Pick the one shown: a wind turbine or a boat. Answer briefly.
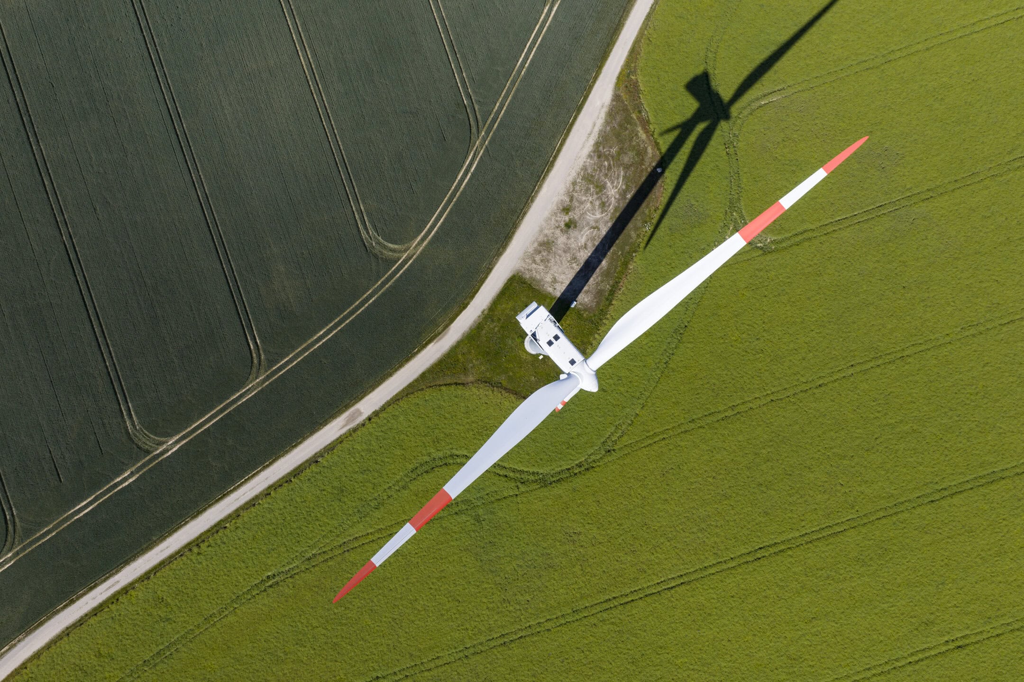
wind turbine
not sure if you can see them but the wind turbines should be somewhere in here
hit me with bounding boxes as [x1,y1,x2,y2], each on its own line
[333,137,868,603]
